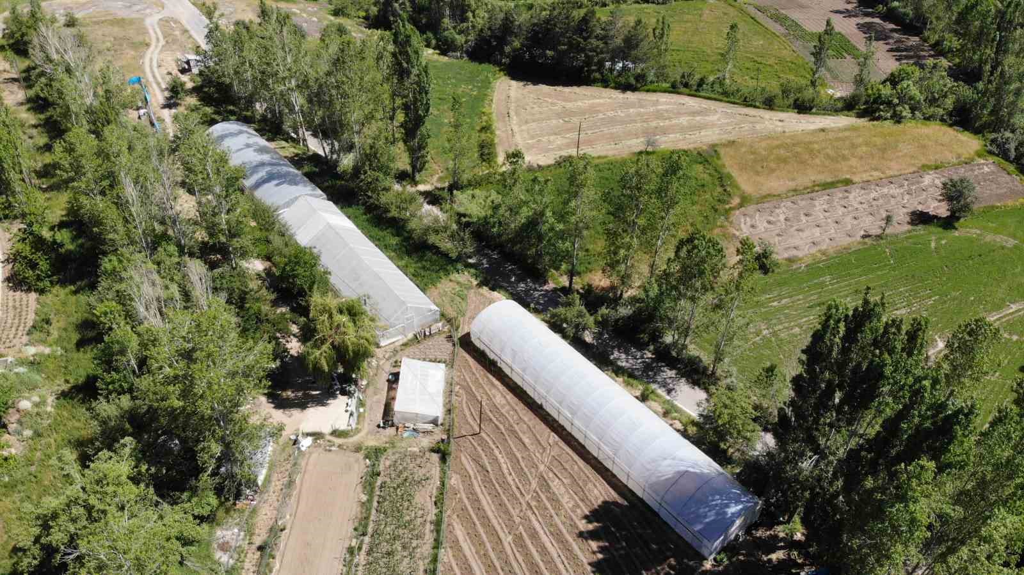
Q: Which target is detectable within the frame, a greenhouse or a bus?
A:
greenhouse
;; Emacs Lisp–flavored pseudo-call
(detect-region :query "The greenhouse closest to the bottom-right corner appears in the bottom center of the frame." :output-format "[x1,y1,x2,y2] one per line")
[472,299,756,559]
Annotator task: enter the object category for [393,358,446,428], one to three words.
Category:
greenhouse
